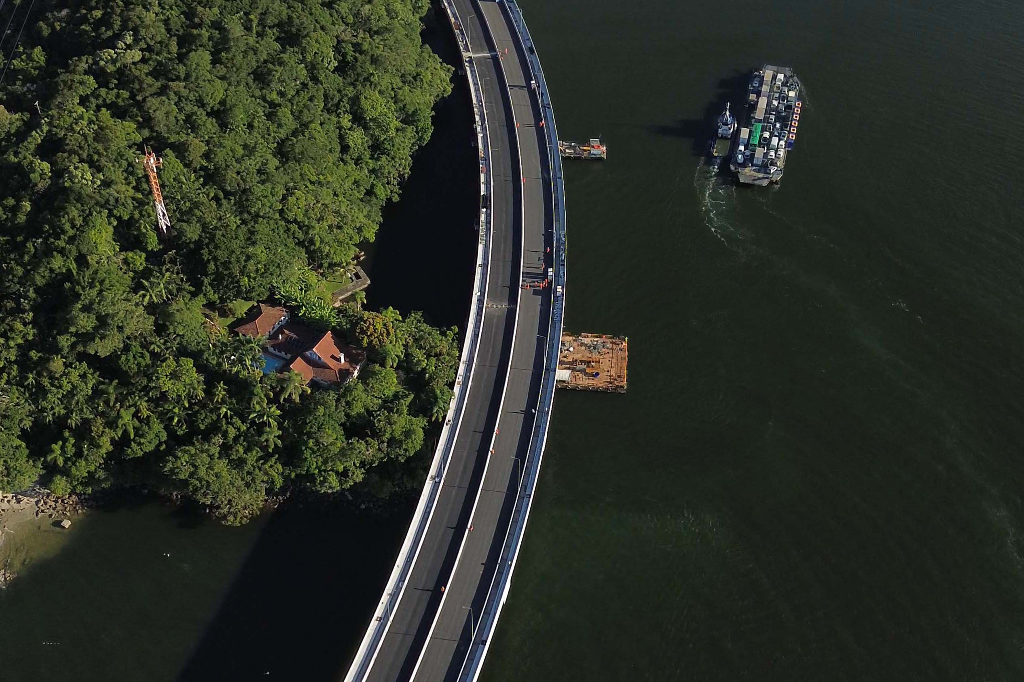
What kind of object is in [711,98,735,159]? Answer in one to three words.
boat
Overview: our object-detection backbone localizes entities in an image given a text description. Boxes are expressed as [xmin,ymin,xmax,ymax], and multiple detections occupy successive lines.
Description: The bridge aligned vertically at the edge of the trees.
[344,0,568,682]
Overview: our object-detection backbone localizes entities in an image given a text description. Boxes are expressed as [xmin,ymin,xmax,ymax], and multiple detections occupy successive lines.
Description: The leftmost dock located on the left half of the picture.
[334,266,370,307]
